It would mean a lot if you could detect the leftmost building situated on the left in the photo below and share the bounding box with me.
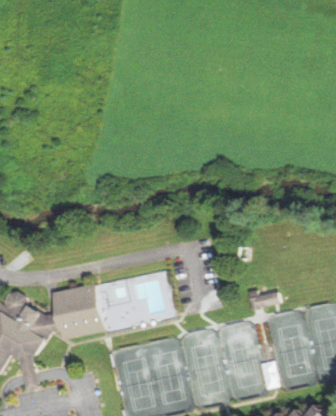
[0,291,29,316]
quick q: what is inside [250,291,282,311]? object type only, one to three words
building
